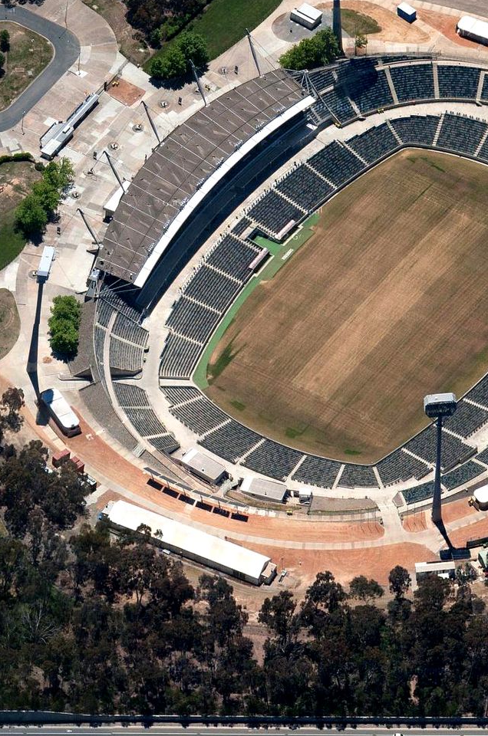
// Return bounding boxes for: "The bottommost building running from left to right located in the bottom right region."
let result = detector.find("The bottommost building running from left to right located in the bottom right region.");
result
[415,561,456,578]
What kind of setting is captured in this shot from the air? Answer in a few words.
sports ground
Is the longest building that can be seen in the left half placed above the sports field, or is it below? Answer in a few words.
below it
